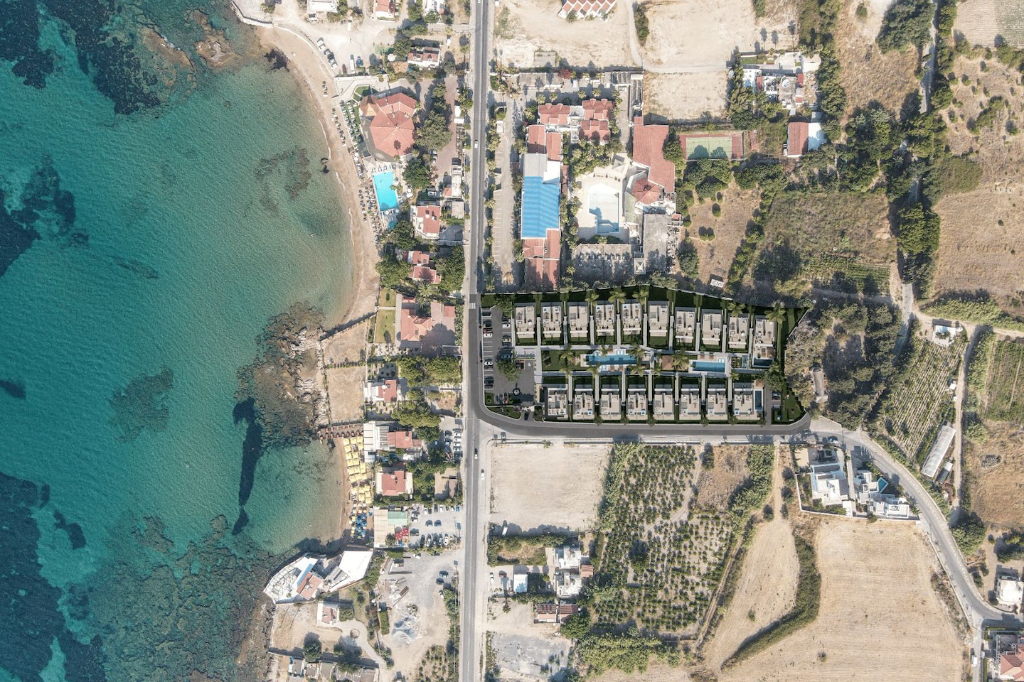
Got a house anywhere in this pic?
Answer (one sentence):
Yes, I can see a house in this picture.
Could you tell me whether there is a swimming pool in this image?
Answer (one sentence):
Yes, there is a swimming pool in the image.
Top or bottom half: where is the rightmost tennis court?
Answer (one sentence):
You can find the rightmost tennis court in the top half.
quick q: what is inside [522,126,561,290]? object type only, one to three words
building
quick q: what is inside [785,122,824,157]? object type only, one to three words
barn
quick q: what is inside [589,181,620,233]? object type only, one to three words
swimming pool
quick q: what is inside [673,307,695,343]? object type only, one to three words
house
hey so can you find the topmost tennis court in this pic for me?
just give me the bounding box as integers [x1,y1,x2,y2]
[686,136,732,159]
